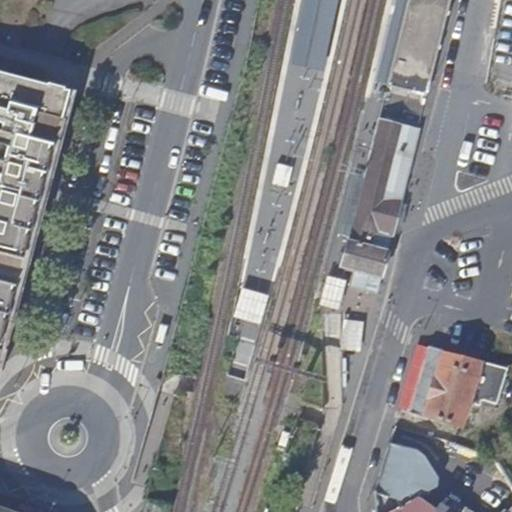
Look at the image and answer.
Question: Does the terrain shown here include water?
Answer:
No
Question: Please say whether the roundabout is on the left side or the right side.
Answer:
left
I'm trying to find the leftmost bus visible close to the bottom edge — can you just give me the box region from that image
[326,447,354,504]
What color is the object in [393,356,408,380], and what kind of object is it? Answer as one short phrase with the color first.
gray car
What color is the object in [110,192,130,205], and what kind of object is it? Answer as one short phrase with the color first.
white vehicle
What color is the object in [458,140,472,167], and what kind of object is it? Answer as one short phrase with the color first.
white vehicle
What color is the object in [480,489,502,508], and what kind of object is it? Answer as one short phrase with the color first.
white car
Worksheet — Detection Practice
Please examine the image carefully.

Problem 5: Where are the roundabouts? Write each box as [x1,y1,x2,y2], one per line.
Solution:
[0,355,150,512]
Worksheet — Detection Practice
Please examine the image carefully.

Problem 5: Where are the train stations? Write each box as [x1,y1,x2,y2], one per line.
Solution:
[352,119,420,237]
